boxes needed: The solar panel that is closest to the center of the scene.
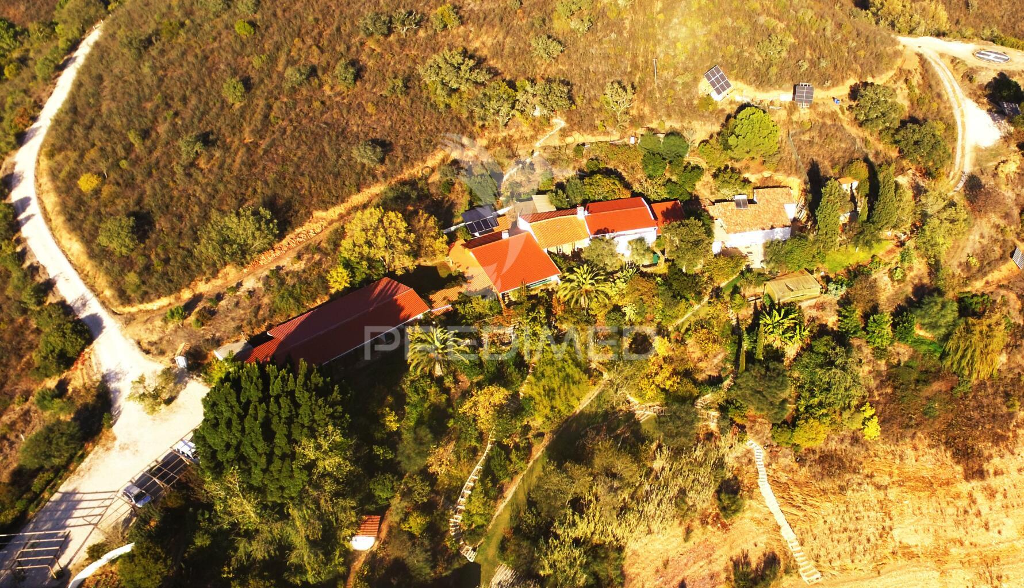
[466,216,496,236]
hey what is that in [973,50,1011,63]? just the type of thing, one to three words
helipad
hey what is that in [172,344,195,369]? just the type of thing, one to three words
shed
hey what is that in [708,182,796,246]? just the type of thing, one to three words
house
